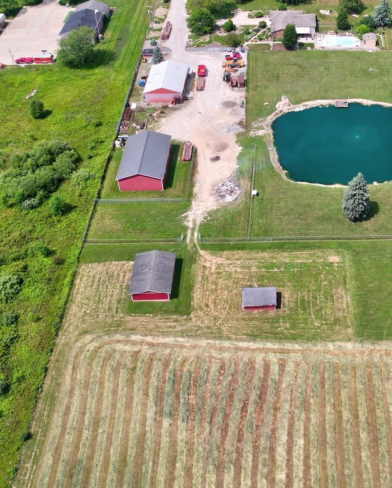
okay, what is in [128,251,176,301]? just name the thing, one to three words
barn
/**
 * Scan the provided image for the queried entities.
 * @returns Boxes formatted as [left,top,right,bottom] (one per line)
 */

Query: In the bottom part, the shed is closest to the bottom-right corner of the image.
[243,286,277,311]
